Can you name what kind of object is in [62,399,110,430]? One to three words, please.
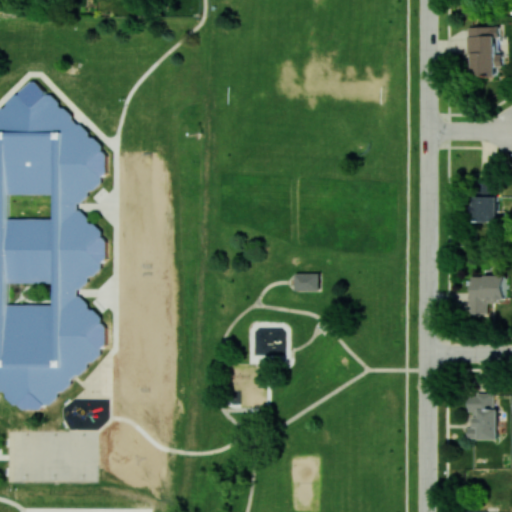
playground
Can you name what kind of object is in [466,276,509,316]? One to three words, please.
house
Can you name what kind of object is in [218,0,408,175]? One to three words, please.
soccer field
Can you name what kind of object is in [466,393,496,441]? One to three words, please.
house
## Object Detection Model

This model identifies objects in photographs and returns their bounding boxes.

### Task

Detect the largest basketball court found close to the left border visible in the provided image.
[8,431,100,482]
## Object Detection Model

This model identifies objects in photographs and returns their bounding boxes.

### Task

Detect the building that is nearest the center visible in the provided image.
[291,274,324,292]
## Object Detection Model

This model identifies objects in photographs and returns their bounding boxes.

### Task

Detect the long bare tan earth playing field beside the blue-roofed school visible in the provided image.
[18,146,185,506]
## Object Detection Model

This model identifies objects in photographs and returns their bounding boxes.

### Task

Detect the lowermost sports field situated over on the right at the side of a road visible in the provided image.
[216,170,407,254]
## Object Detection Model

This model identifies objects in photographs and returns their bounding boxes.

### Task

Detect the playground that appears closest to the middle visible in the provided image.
[250,321,295,368]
